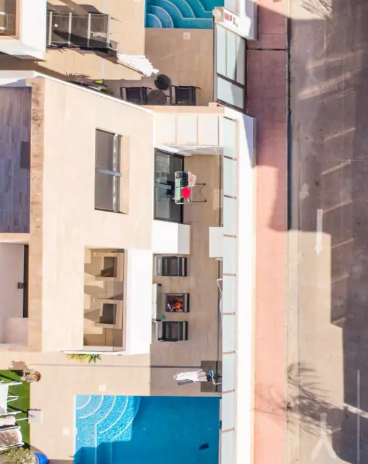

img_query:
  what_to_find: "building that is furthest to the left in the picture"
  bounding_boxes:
[0,0,65,58]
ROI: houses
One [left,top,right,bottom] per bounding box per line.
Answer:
[0,0,65,58]
[0,76,189,355]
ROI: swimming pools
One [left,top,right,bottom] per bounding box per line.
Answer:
[144,0,211,28]
[72,396,220,464]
